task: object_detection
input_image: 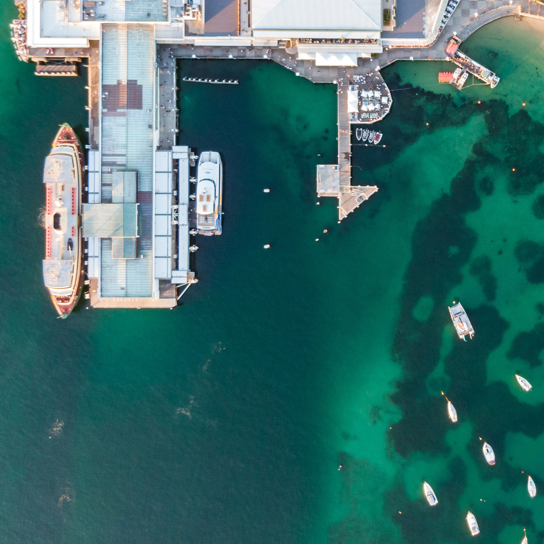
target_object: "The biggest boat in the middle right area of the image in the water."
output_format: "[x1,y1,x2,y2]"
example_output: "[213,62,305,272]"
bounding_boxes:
[449,302,475,338]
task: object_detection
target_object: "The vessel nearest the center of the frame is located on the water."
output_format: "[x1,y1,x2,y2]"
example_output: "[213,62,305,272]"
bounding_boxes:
[196,152,221,235]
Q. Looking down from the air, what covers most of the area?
water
